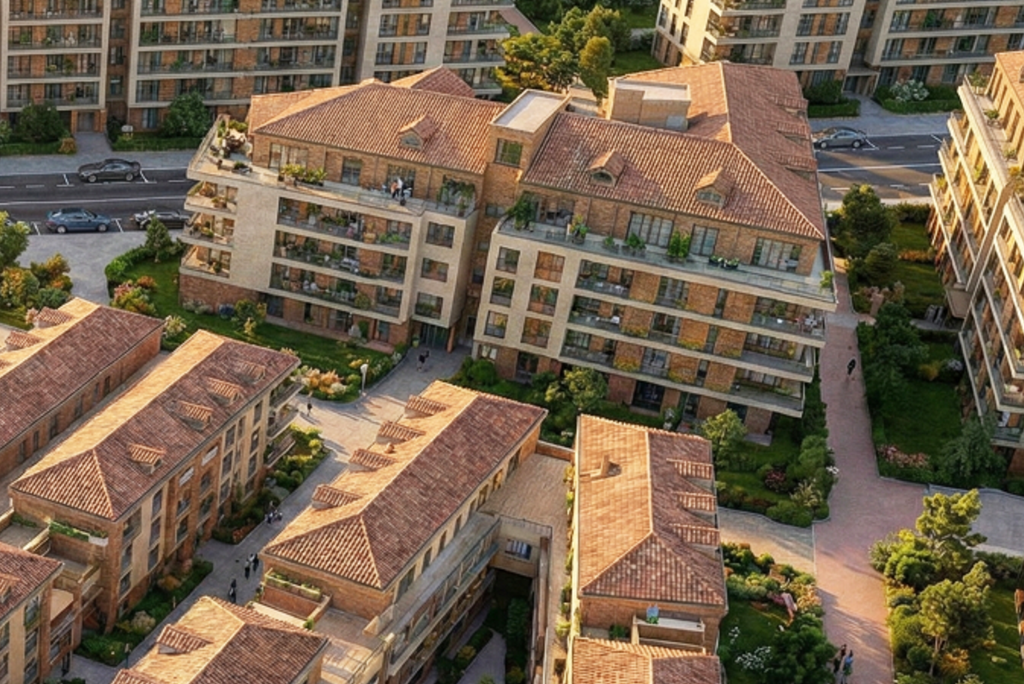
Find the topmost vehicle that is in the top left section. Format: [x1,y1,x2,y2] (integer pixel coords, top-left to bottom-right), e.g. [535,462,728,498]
[78,154,144,183]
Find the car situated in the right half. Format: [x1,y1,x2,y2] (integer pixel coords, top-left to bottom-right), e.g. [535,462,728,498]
[816,123,870,148]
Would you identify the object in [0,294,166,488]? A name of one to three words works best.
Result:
house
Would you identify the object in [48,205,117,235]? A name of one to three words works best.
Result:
car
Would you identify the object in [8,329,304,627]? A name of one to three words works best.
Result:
house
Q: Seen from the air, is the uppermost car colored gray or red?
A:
gray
